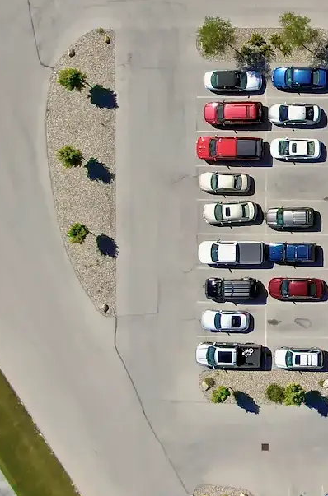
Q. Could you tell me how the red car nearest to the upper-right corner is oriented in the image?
from left to right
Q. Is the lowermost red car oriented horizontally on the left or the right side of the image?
right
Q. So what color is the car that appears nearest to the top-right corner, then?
blue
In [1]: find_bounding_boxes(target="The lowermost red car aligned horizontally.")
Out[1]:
[269,276,325,302]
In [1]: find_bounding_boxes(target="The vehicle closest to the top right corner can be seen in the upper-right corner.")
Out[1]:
[272,64,327,92]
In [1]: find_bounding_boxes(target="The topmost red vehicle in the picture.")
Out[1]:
[204,99,262,126]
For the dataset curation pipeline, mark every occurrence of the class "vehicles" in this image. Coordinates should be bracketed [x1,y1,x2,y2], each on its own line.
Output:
[271,136,321,162]
[269,101,321,127]
[267,205,314,231]
[269,276,325,302]
[204,99,262,126]
[272,64,327,92]
[199,168,250,195]
[198,239,265,267]
[204,277,254,301]
[196,133,265,161]
[203,200,257,227]
[204,66,263,93]
[267,240,319,265]
[196,343,264,372]
[275,347,325,373]
[202,309,250,335]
